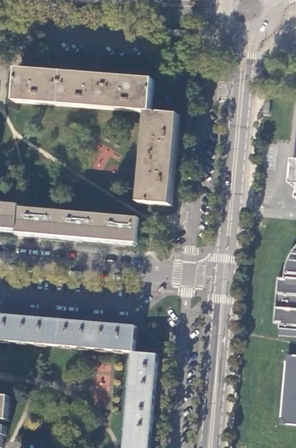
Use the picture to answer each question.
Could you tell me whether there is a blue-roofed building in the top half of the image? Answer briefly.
No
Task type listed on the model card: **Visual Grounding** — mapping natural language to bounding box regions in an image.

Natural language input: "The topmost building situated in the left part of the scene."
[9,66,154,112]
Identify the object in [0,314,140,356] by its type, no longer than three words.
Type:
building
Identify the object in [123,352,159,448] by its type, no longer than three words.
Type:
building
